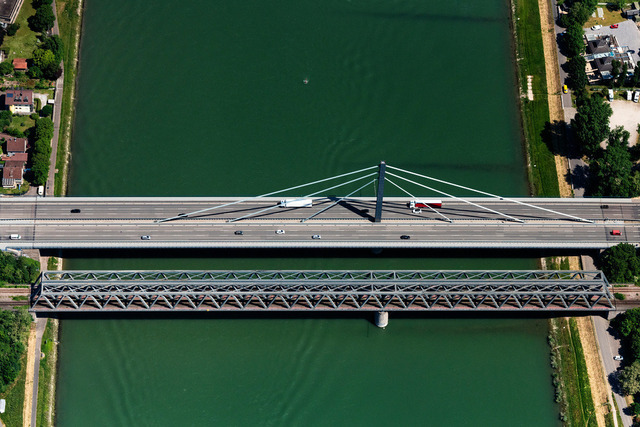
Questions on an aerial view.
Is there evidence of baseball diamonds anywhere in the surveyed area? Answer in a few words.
No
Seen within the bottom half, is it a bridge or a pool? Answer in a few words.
bridge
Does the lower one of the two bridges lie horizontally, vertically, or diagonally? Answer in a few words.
horizontally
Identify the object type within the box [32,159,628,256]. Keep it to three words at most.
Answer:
bridge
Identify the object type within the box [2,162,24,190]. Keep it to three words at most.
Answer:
house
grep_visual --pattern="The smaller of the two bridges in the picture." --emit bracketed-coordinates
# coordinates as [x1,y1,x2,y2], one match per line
[31,270,614,326]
